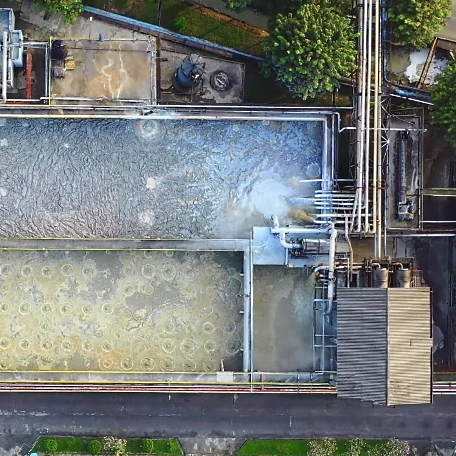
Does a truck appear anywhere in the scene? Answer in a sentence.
No, no truck can be seen from above.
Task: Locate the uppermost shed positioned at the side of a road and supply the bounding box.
[333,288,433,409]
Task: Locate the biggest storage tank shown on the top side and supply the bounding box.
[155,60,205,101]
